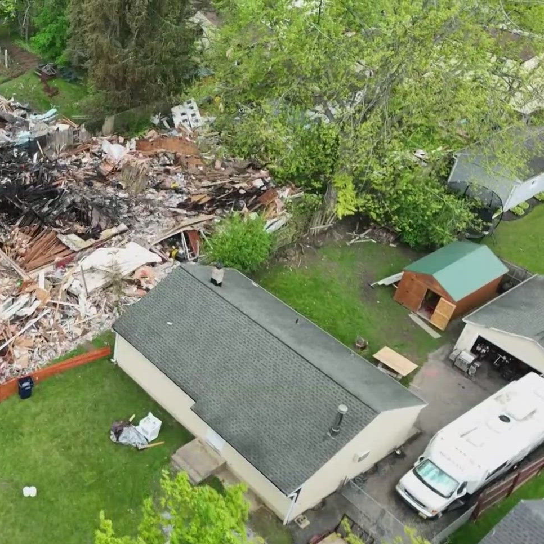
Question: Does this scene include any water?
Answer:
No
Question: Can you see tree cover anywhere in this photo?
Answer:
Yes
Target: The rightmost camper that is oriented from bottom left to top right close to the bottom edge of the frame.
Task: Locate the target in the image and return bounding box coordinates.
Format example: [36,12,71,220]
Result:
[394,361,544,524]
